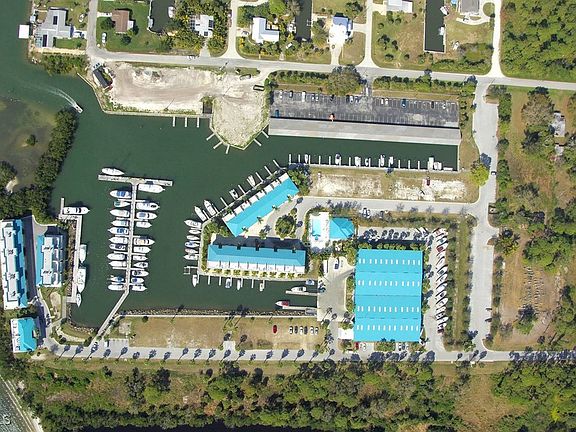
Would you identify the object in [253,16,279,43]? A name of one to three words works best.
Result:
house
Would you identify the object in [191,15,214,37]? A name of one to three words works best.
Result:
house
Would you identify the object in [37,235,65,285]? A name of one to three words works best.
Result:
building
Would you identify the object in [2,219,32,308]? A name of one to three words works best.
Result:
building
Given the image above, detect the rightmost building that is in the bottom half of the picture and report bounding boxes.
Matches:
[354,249,422,342]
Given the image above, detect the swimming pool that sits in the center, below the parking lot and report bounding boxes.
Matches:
[310,212,330,247]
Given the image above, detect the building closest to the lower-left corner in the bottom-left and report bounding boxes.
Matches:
[11,318,37,353]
